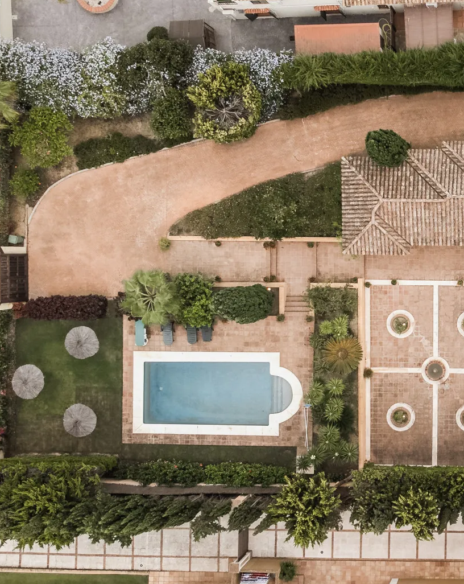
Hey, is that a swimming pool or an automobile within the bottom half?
swimming pool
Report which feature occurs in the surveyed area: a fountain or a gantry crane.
fountain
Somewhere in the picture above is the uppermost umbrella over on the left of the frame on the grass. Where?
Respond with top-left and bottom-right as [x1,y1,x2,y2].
[66,323,105,360]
